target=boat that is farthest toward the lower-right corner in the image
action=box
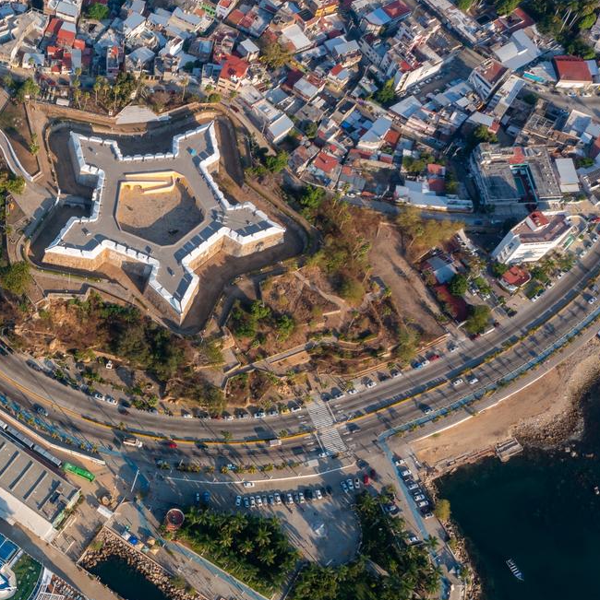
[505,560,523,580]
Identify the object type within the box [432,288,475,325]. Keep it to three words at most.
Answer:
house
